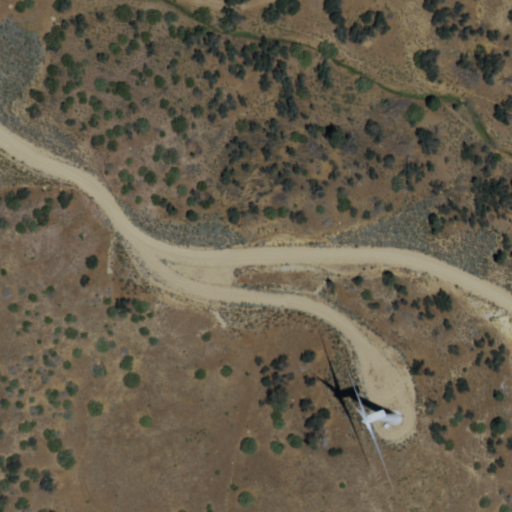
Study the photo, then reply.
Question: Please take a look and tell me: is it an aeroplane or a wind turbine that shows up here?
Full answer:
The image shows a wind turbine.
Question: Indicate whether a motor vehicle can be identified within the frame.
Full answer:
No, no motor vehicle can be seen from above.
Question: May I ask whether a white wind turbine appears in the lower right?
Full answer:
Yes, you'll find a white wind turbine in the lower right.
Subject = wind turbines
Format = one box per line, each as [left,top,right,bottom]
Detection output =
[345,360,403,492]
